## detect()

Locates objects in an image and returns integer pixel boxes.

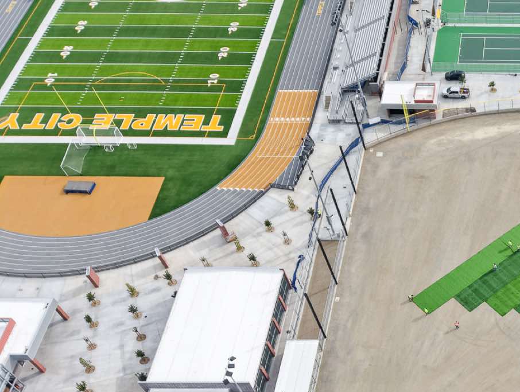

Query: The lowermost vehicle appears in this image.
[444,85,472,98]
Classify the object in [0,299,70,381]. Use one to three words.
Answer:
building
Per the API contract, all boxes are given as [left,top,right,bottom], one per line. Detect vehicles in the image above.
[443,68,466,79]
[444,85,472,98]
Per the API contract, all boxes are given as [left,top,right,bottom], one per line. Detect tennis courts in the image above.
[432,26,520,76]
[440,0,520,24]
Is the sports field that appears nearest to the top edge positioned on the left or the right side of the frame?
left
